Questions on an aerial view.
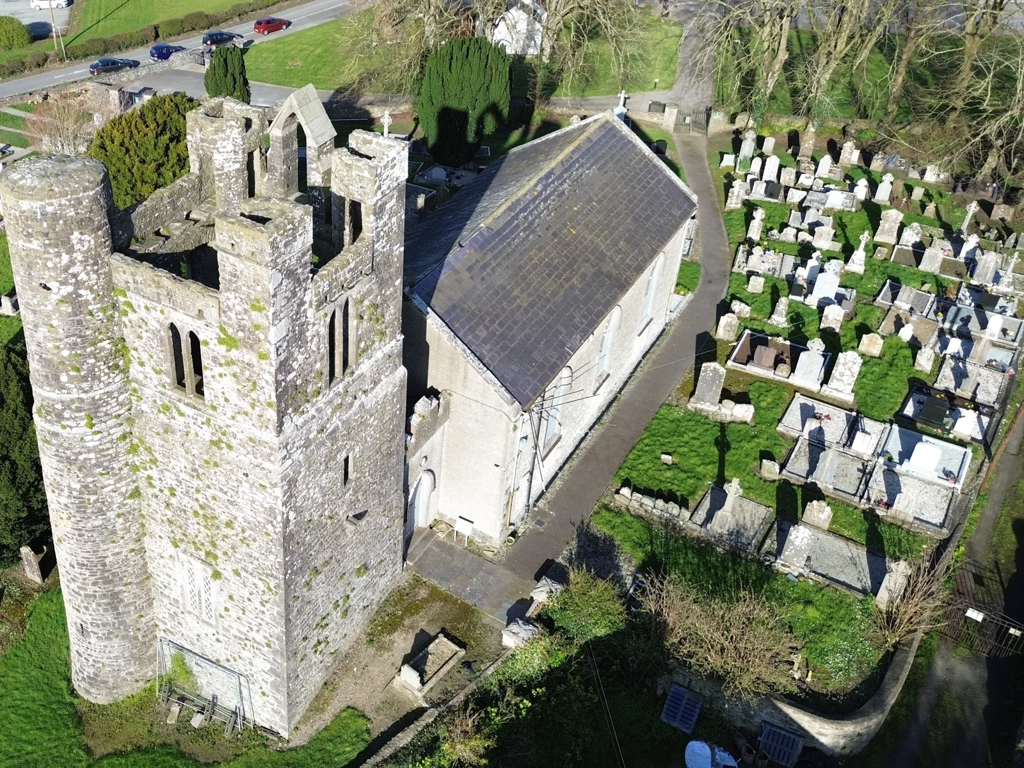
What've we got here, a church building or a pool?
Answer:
church building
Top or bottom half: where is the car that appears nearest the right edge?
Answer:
top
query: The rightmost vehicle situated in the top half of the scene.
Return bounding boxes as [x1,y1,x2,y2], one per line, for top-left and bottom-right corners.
[252,14,292,35]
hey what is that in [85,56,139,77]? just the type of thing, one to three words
car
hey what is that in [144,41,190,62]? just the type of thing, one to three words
car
